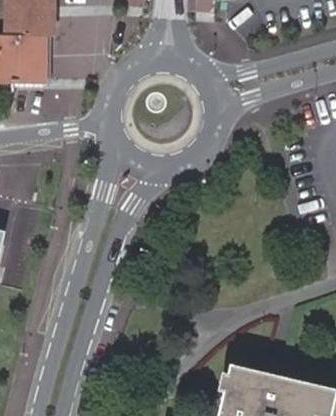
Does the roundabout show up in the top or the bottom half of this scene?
top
